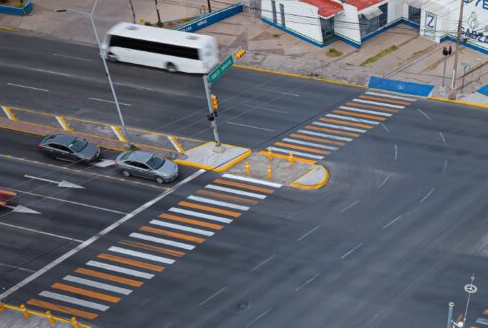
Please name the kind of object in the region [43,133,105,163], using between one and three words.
car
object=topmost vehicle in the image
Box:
[94,19,213,73]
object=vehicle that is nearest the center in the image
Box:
[115,151,179,183]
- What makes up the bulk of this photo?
paved ground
